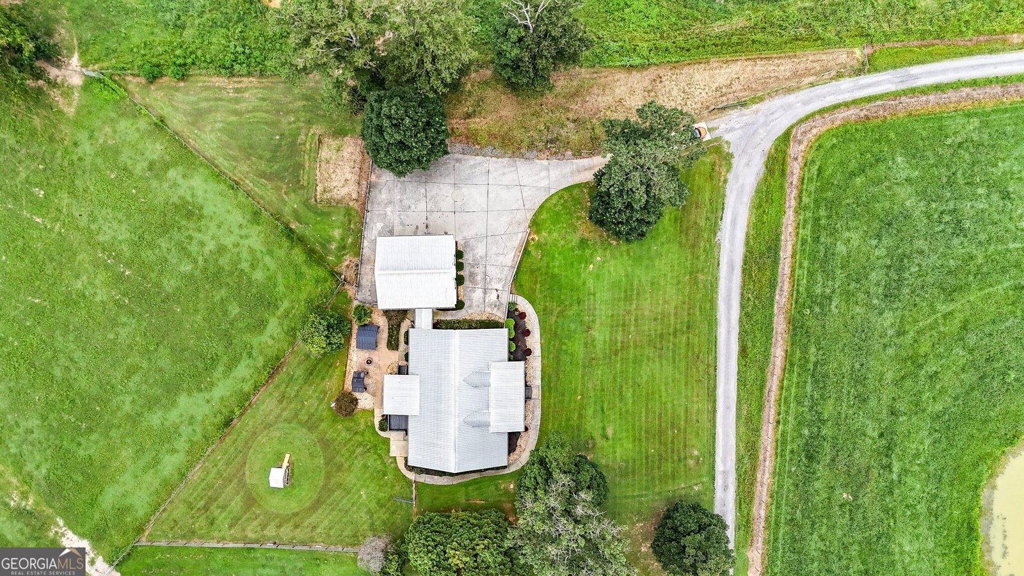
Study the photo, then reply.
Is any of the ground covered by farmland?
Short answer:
Yes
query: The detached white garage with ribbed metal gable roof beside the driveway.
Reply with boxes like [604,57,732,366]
[374,234,457,310]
